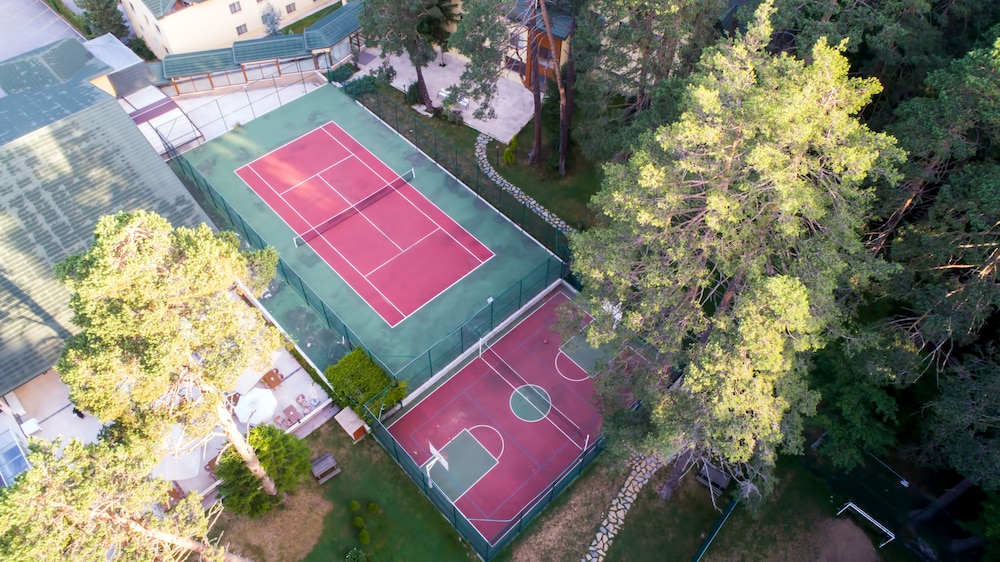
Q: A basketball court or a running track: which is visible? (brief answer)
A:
basketball court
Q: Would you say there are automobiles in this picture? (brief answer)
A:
No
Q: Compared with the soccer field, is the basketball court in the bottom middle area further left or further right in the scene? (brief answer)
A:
left of it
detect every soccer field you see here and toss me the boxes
[727,455,937,562]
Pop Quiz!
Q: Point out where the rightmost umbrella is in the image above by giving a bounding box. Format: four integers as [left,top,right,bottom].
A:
[238,393,277,428]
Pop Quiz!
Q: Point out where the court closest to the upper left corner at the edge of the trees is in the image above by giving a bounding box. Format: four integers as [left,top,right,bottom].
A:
[169,82,572,395]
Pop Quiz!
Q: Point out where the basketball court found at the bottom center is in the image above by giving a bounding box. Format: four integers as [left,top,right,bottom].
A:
[377,282,677,557]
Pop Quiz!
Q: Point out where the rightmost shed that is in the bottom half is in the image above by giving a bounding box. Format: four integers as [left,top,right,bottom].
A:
[330,407,365,445]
